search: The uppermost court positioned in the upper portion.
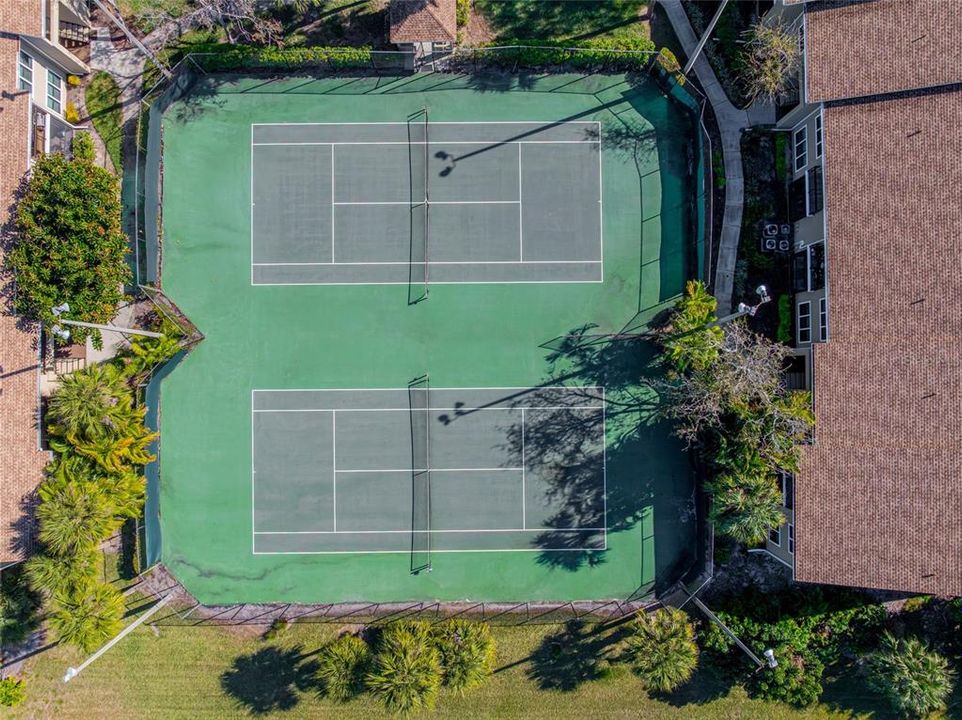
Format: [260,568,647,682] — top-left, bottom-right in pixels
[252,122,602,285]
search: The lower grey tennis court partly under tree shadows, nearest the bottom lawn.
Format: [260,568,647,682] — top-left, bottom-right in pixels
[253,387,606,554]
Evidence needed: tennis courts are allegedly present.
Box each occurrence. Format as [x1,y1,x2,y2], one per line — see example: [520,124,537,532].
[252,122,602,285]
[253,387,606,554]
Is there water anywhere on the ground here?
No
